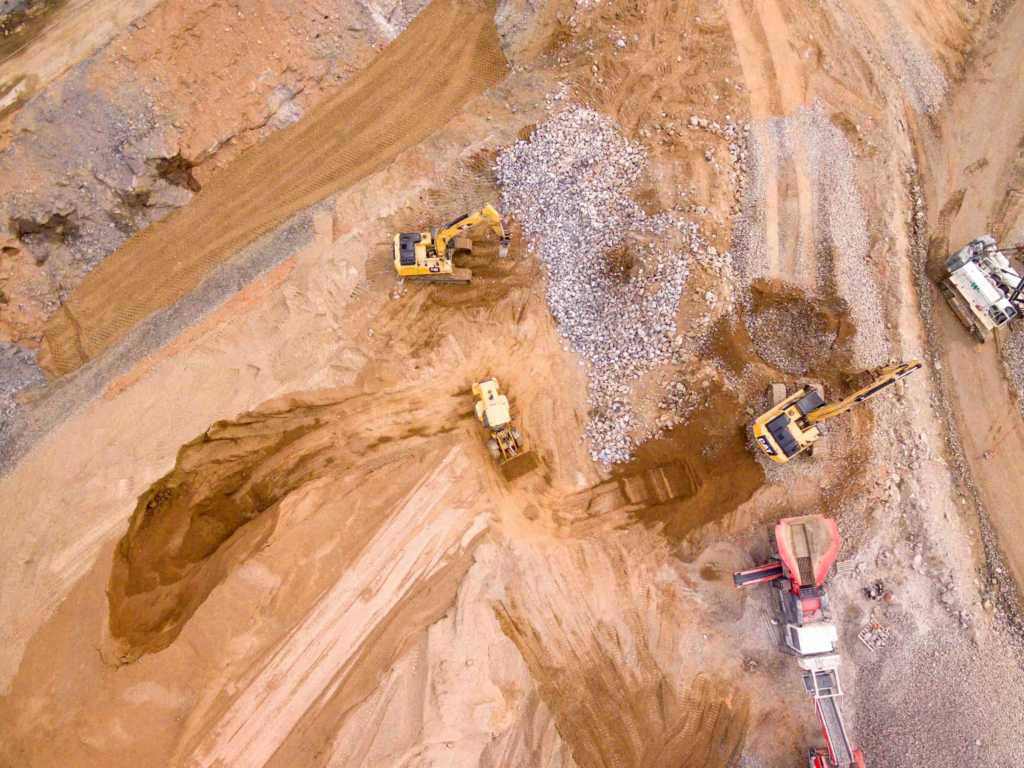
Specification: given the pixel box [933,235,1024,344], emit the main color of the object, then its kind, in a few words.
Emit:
white crane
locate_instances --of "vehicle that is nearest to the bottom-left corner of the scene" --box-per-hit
[472,378,538,483]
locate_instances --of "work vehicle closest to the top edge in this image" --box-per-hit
[393,198,513,283]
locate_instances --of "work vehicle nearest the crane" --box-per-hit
[749,358,922,464]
